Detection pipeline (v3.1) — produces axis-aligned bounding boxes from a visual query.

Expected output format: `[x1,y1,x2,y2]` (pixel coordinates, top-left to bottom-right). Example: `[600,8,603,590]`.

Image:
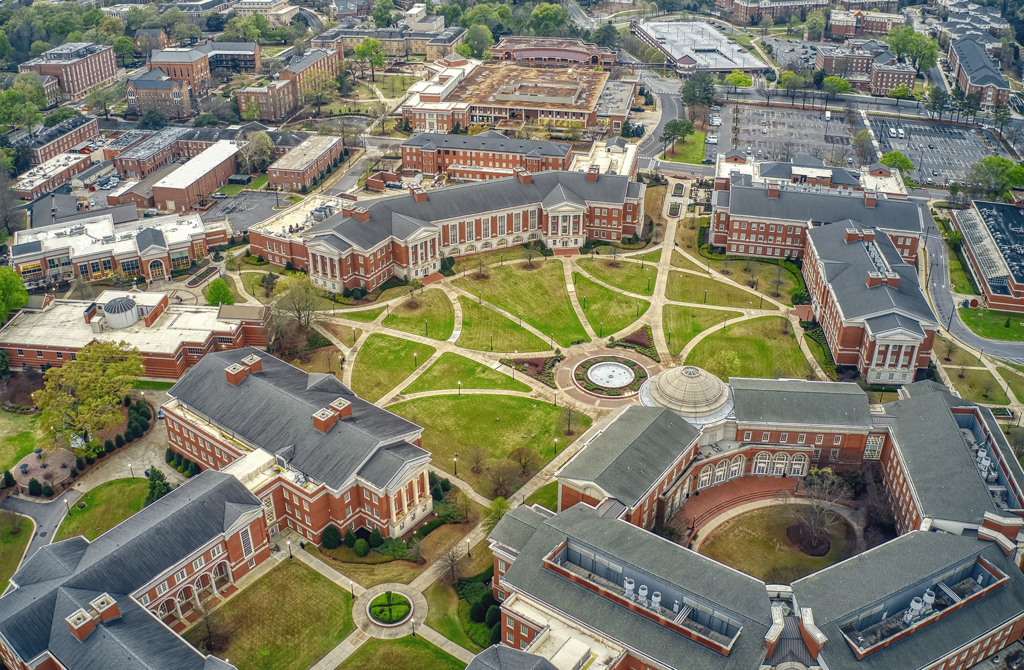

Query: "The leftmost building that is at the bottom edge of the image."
[0,469,271,670]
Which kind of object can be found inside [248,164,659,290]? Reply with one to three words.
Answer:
building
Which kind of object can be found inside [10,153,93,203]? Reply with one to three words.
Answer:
building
